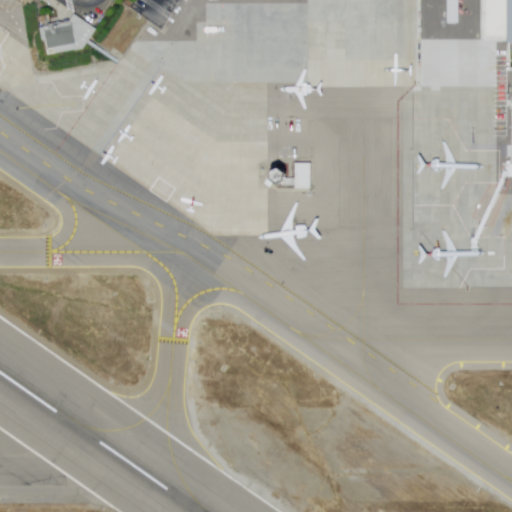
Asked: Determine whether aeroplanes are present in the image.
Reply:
Yes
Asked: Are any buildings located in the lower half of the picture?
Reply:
No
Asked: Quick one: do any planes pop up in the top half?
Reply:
Yes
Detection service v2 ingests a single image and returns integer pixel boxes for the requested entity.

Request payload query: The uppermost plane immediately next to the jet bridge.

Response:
[419,144,482,190]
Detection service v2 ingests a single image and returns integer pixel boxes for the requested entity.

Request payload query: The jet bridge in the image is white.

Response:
[472,168,506,252]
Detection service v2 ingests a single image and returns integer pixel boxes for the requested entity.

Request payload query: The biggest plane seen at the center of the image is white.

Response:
[260,201,322,260]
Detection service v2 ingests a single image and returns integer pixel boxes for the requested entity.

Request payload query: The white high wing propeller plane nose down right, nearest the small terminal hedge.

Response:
[82,79,98,100]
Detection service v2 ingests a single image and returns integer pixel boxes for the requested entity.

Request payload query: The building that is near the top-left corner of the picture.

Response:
[39,14,96,54]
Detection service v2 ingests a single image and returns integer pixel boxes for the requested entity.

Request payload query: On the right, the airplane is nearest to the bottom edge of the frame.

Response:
[418,231,482,278]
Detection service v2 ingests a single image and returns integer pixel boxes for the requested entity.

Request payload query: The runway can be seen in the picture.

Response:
[0,314,282,512]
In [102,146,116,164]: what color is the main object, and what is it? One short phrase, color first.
white airplane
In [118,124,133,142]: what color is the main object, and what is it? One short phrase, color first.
white airplane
